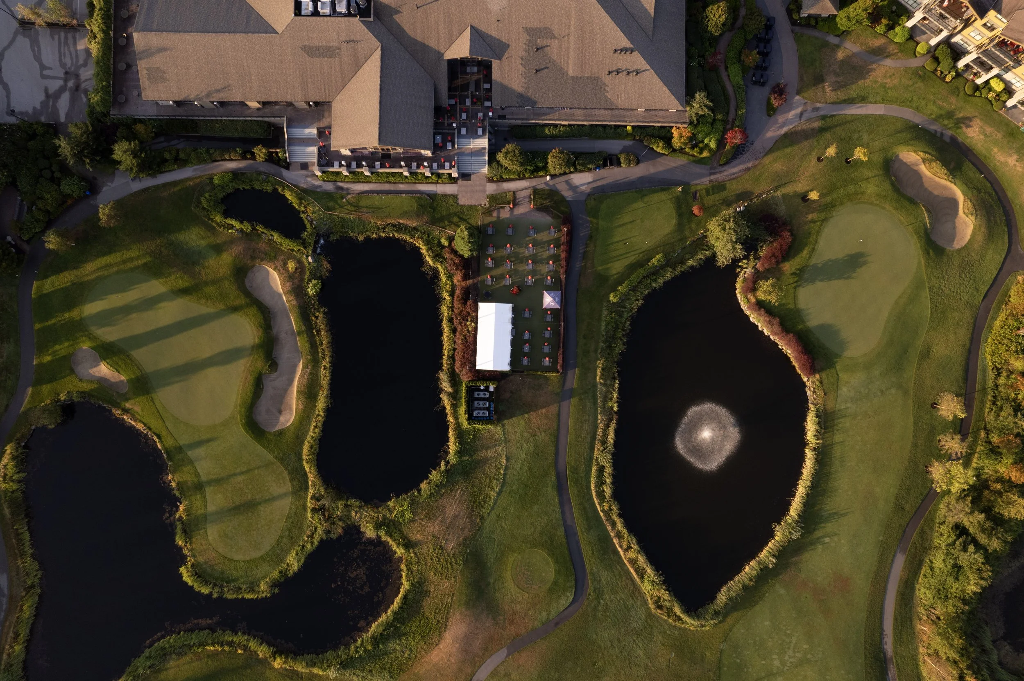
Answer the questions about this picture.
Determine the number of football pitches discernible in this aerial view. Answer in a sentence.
There are no football pitches in this view.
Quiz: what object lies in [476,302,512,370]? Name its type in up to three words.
tent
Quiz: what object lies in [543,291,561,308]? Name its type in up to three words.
umbrella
